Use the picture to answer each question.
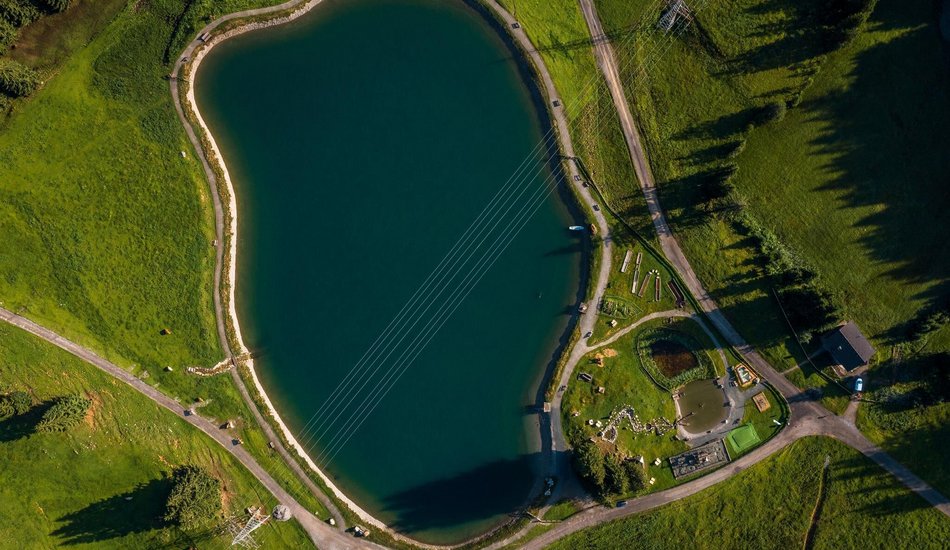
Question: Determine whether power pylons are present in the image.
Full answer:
Yes, there's a power pylon here.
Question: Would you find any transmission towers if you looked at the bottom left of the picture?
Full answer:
Yes, a transmission tower is visible at the bottom left of the picture.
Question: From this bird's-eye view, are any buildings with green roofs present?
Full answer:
No, the scene contains no building with a green roof.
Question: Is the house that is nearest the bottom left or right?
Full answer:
The house that is nearest the bottom is on the right side of the image.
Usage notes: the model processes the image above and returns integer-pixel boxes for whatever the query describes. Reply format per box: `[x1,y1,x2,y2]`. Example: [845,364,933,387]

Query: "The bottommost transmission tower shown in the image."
[228,502,274,548]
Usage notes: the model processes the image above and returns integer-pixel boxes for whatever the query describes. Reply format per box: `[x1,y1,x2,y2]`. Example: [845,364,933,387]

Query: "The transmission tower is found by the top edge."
[657,0,700,36]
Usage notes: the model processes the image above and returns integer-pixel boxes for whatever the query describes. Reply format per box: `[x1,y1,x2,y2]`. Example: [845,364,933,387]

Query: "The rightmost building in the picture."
[821,320,875,373]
